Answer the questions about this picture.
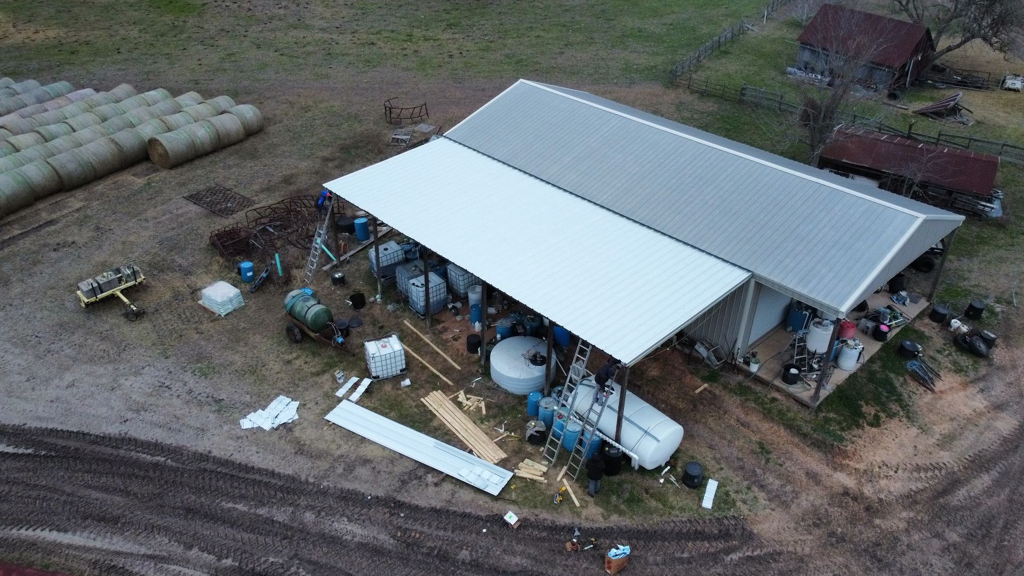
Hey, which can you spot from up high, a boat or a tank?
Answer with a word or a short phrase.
tank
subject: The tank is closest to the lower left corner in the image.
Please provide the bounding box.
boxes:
[280,286,332,326]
